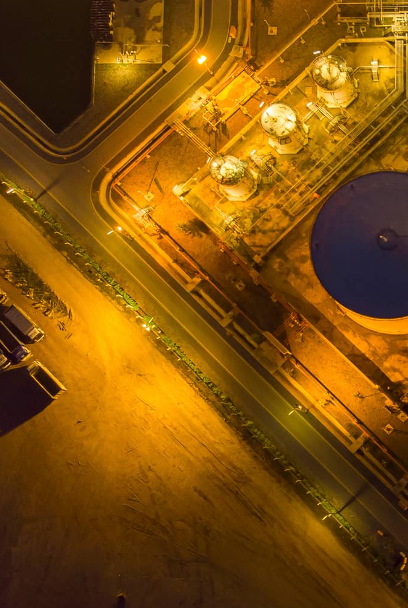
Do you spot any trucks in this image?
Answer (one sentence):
Yes, I can see a truck in this picture.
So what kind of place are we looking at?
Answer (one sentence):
The picture captures an industrial area.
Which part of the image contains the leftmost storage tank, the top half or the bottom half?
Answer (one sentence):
The top half of the photo is where the leftmost storage tank is.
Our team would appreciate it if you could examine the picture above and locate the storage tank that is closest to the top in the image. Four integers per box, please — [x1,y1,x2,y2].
[311,50,358,111]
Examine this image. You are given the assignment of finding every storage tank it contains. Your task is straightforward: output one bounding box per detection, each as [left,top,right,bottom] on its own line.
[203,151,263,205]
[309,171,408,339]
[311,50,358,111]
[255,100,310,156]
